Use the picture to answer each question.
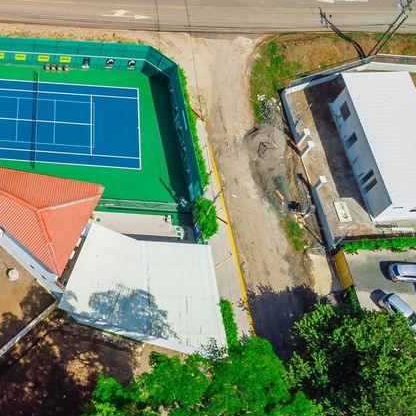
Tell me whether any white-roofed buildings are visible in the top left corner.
No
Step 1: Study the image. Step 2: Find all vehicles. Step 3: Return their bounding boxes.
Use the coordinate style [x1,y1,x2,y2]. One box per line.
[380,291,416,325]
[389,264,416,286]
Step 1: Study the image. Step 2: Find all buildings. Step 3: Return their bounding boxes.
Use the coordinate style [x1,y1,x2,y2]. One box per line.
[60,222,230,361]
[329,73,416,221]
[0,168,106,291]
